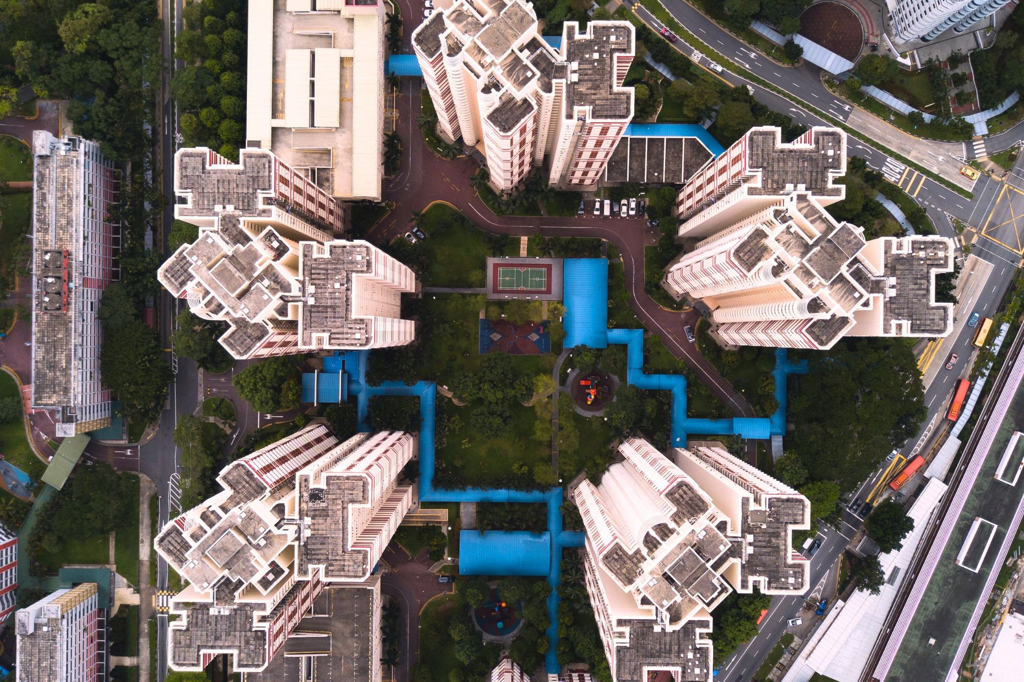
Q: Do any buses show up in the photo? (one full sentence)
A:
Yes, the photo shows a bus.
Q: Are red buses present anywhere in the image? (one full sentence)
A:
Yes, there's a red bus down there.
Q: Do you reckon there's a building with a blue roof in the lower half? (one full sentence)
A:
Yes, in the lower half there is a building with a blue roof.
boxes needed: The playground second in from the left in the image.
[471,586,526,641]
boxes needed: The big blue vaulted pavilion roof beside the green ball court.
[563,258,608,348]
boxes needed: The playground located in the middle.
[564,363,620,419]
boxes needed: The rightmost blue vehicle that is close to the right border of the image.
[967,311,980,328]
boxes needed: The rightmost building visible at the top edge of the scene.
[882,0,1022,96]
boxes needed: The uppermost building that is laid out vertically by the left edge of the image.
[33,130,123,436]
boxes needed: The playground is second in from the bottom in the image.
[0,460,36,501]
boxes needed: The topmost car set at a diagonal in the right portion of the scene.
[660,26,677,42]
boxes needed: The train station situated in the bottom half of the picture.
[870,339,1024,682]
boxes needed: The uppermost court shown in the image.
[486,256,563,300]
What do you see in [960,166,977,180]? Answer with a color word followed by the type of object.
yellow car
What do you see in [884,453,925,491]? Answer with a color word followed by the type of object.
red bus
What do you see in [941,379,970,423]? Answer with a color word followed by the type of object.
red bus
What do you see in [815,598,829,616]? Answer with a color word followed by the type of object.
blue car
